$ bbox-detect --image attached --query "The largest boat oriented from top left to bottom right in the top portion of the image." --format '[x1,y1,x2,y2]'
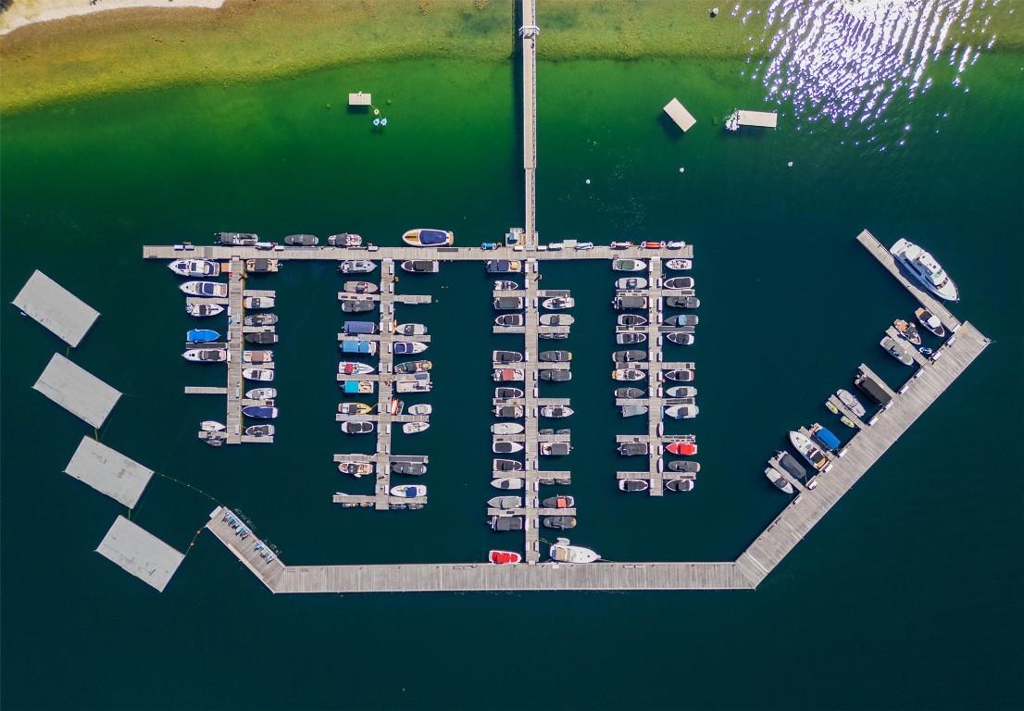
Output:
[889,238,961,301]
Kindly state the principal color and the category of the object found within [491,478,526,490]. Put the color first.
white boat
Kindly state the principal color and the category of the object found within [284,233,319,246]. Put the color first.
gray boat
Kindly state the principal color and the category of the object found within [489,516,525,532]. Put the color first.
gray boat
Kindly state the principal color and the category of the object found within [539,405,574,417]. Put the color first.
white boat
